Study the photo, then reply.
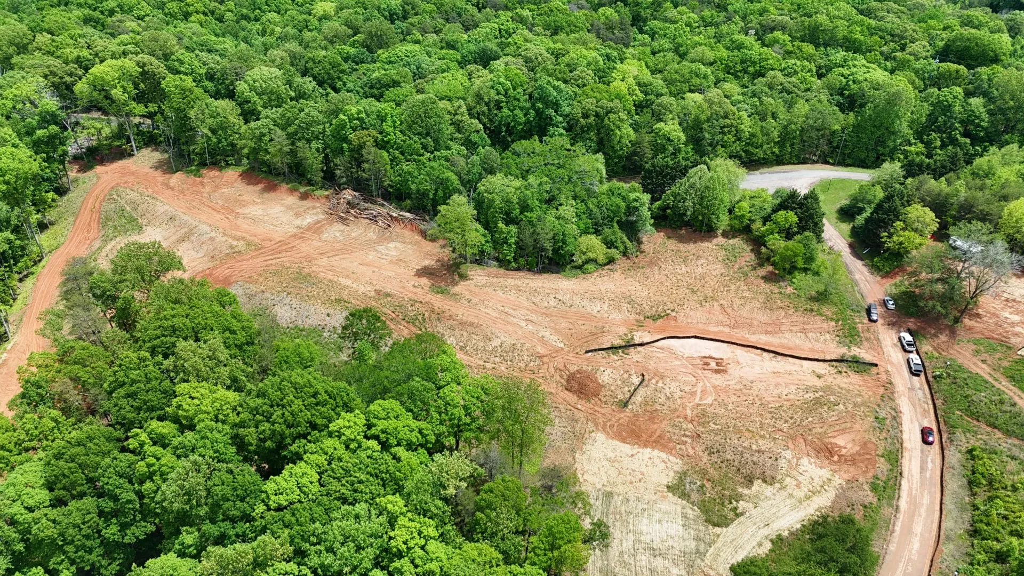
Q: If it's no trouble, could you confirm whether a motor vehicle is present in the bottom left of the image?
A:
No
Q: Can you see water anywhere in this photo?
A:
No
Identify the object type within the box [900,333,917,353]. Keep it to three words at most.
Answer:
vehicle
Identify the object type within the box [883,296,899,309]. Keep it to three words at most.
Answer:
vehicle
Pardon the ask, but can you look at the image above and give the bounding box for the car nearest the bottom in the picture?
[922,425,936,445]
